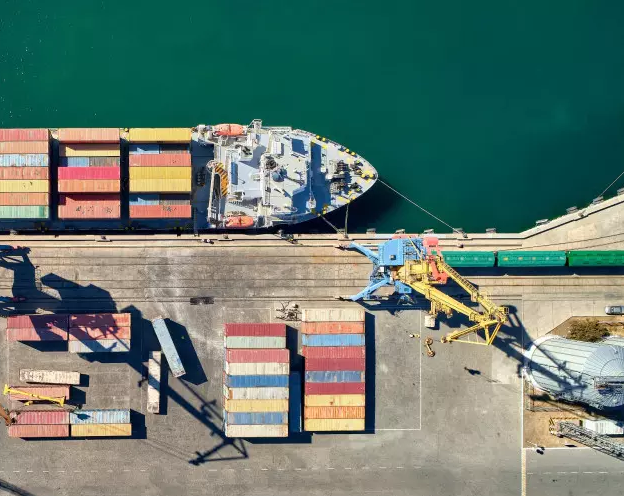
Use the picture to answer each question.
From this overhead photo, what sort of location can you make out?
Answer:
port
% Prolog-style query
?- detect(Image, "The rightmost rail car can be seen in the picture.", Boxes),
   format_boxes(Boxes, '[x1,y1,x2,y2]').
[563,250,624,266]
